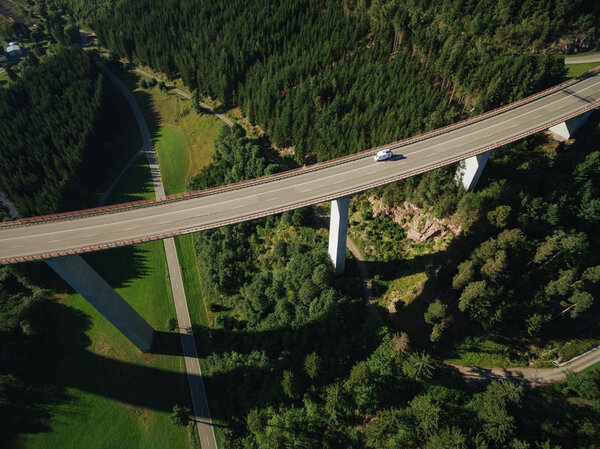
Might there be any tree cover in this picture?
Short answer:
Yes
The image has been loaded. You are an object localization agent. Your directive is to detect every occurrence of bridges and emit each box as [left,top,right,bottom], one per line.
[0,65,600,352]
